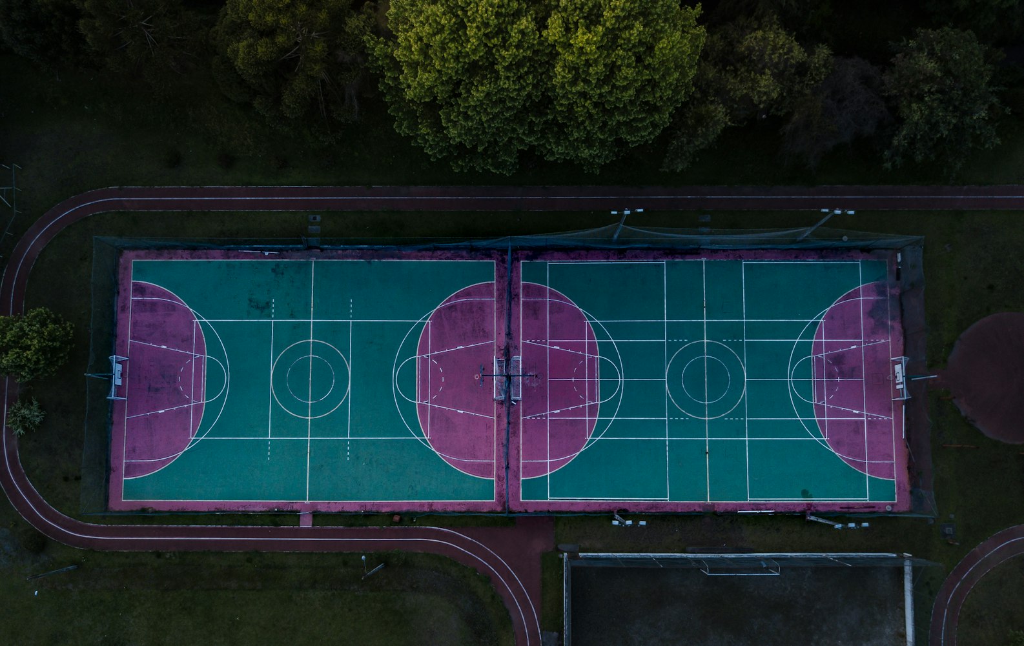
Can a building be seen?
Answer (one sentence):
No, no building can be seen from above.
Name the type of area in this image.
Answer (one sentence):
The area seen from above is a sports ground.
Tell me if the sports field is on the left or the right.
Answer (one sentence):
The sports field is on the right side of the image.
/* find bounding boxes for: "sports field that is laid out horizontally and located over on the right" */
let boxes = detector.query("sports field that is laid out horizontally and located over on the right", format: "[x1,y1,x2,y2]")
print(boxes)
[567,555,907,646]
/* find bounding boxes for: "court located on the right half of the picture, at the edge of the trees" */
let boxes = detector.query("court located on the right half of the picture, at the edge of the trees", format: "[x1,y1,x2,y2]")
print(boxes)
[509,249,911,512]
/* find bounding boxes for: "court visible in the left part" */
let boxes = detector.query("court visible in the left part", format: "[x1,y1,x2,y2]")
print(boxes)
[107,249,509,512]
